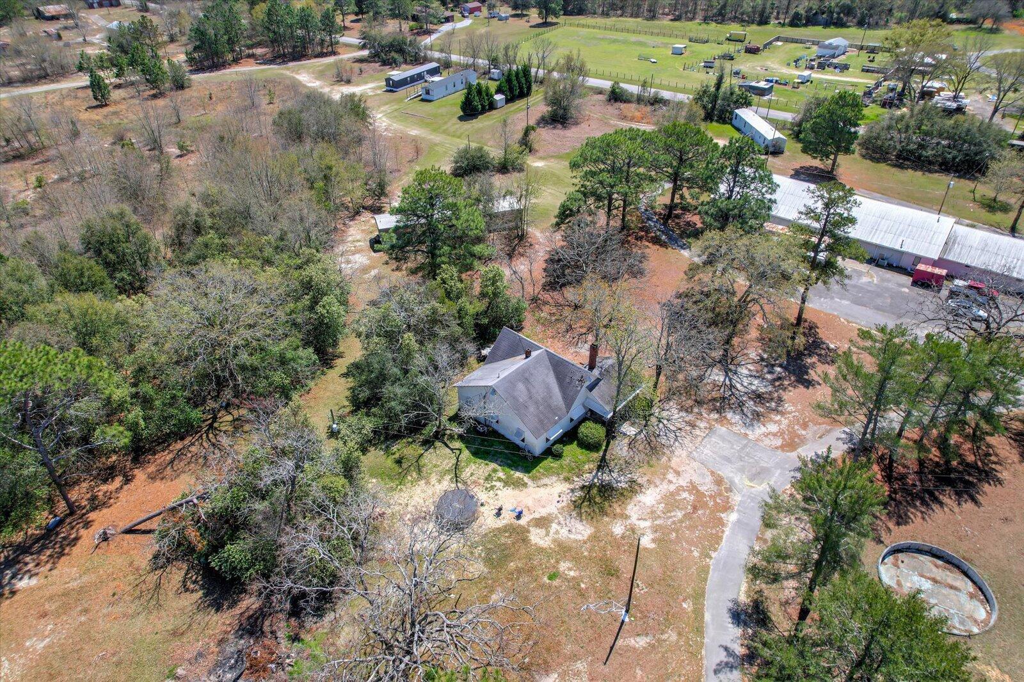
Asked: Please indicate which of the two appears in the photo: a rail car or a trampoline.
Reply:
trampoline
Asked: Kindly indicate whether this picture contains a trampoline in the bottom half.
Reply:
Yes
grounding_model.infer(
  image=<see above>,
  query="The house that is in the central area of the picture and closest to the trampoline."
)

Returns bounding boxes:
[451,327,646,455]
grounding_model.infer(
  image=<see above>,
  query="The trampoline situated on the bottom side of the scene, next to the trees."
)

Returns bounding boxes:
[434,486,480,525]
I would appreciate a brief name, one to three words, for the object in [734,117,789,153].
house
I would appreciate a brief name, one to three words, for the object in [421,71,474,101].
house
